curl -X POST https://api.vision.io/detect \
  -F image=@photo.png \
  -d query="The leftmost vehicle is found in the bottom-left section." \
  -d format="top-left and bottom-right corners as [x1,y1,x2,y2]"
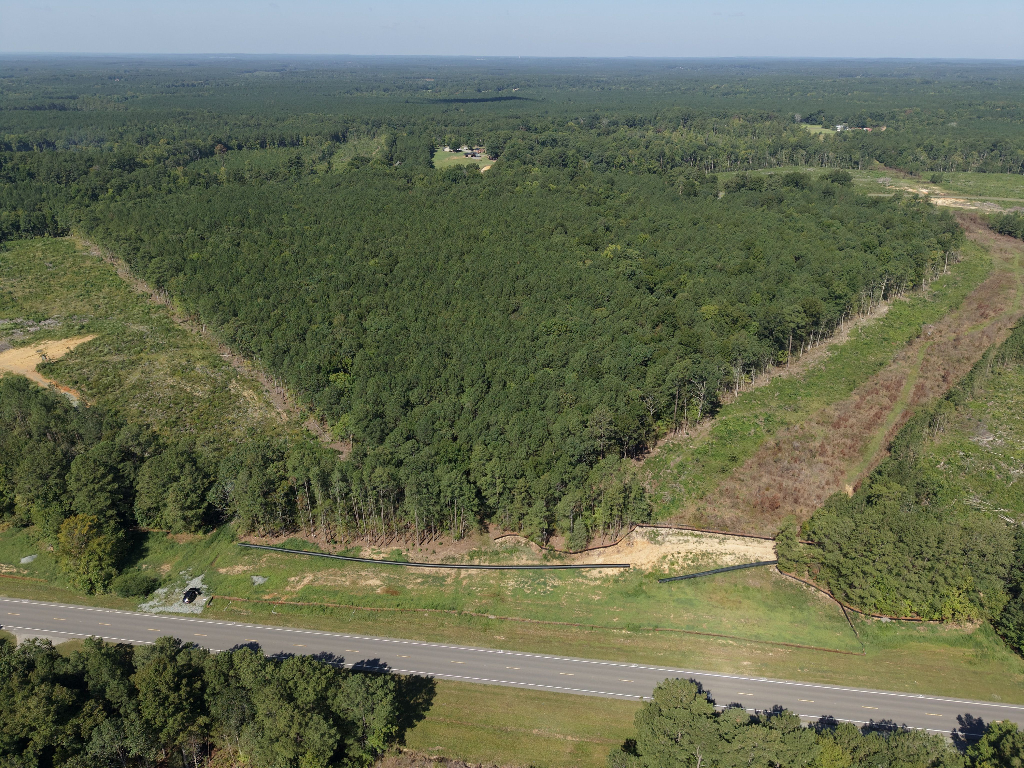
[183,586,202,604]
